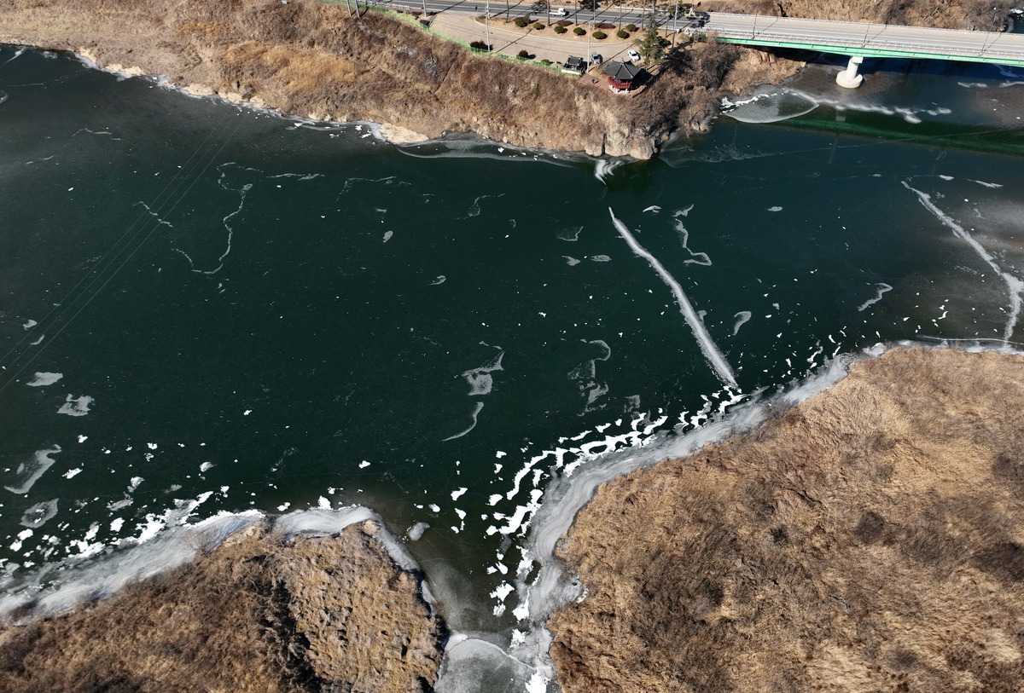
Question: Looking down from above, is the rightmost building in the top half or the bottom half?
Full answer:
The rightmost building is in the top half of the image.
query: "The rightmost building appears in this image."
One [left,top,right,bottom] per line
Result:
[604,56,641,92]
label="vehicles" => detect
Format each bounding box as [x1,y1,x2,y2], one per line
[628,48,640,60]
[549,7,566,17]
[591,49,601,63]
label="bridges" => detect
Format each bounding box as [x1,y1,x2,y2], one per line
[682,10,1024,89]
